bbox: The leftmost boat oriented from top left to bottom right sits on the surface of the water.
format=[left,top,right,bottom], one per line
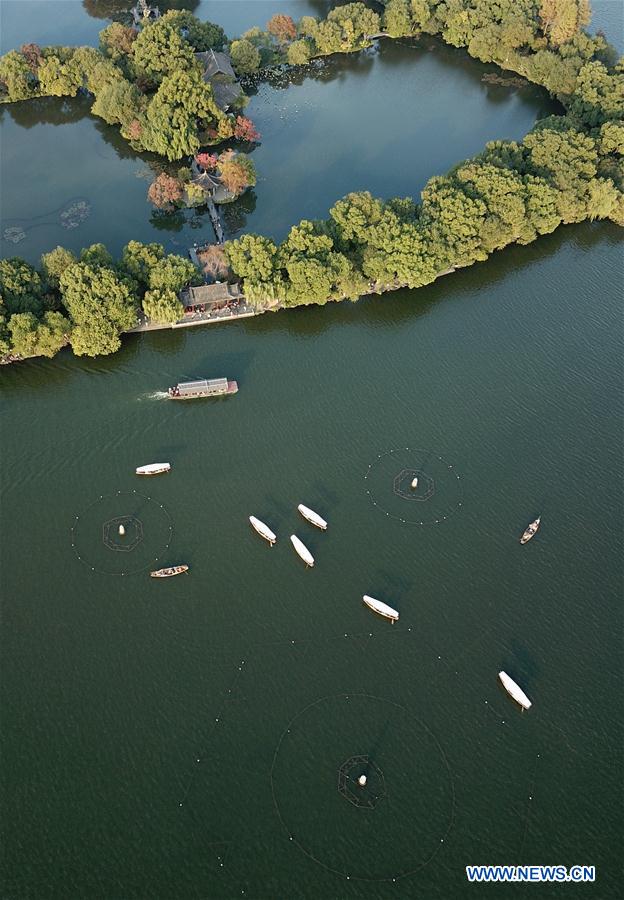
[249,517,277,550]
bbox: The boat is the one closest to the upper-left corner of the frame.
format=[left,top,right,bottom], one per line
[168,377,238,398]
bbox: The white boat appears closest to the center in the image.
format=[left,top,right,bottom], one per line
[298,505,328,536]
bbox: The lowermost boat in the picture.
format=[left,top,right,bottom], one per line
[497,673,531,714]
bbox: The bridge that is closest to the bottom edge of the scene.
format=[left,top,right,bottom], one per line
[188,185,226,266]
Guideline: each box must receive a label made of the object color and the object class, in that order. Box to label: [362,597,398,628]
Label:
white boat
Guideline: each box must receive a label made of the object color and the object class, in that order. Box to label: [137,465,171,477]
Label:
white boat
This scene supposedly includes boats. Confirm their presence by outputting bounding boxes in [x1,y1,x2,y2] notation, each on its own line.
[290,535,315,572]
[137,465,171,477]
[497,673,531,714]
[298,505,328,536]
[249,517,277,550]
[168,377,238,398]
[520,513,541,545]
[149,566,190,577]
[362,597,398,628]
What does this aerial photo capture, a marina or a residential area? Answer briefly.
marina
